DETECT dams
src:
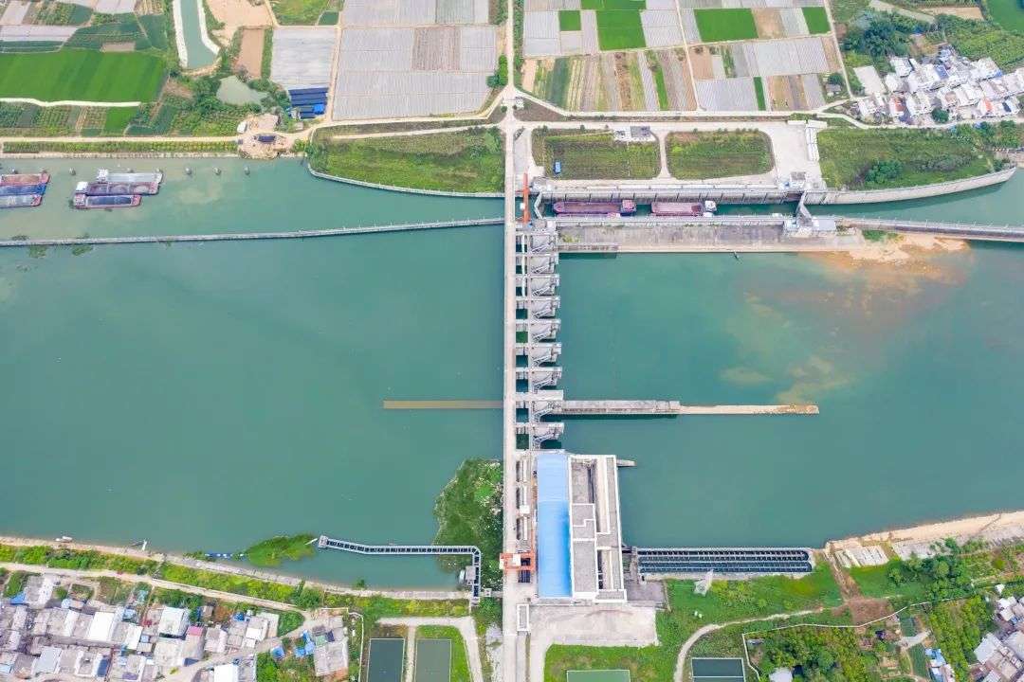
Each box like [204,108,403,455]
[503,129,562,682]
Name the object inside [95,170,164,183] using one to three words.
ship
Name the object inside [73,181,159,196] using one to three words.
ship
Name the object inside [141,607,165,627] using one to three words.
house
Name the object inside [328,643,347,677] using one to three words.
house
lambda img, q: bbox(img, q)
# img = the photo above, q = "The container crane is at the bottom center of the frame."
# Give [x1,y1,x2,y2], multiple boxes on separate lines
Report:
[498,547,535,574]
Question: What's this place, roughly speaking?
port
